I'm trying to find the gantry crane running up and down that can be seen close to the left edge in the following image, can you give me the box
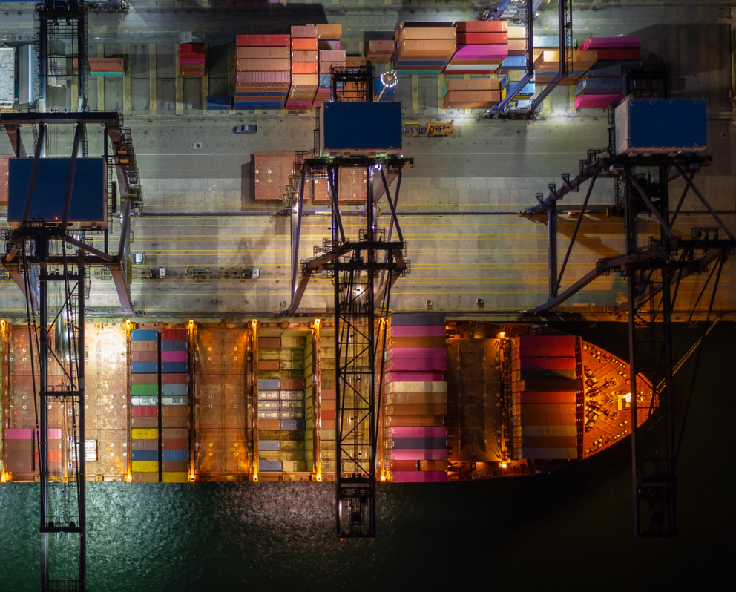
[0,0,161,592]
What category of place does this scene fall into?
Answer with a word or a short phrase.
port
